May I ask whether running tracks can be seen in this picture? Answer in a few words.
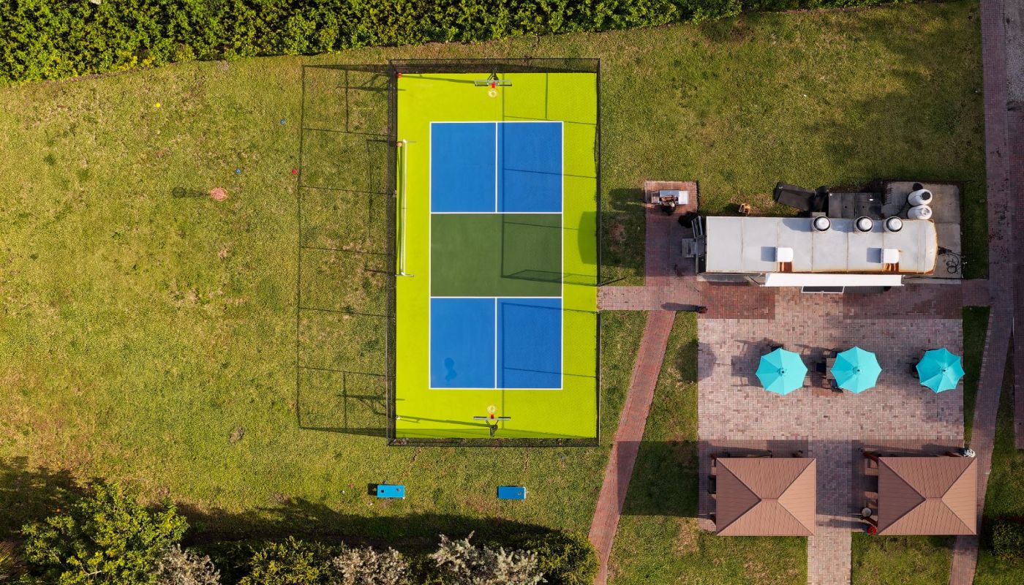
No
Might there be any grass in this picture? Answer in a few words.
Yes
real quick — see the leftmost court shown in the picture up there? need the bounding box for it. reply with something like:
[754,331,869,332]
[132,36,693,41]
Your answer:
[397,73,597,438]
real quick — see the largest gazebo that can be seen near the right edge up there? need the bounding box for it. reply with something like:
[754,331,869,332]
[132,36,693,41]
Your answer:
[862,451,978,536]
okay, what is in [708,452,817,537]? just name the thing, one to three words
gazebo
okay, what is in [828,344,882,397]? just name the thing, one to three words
umbrella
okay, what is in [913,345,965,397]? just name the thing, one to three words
umbrella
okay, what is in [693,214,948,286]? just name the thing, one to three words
trailer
